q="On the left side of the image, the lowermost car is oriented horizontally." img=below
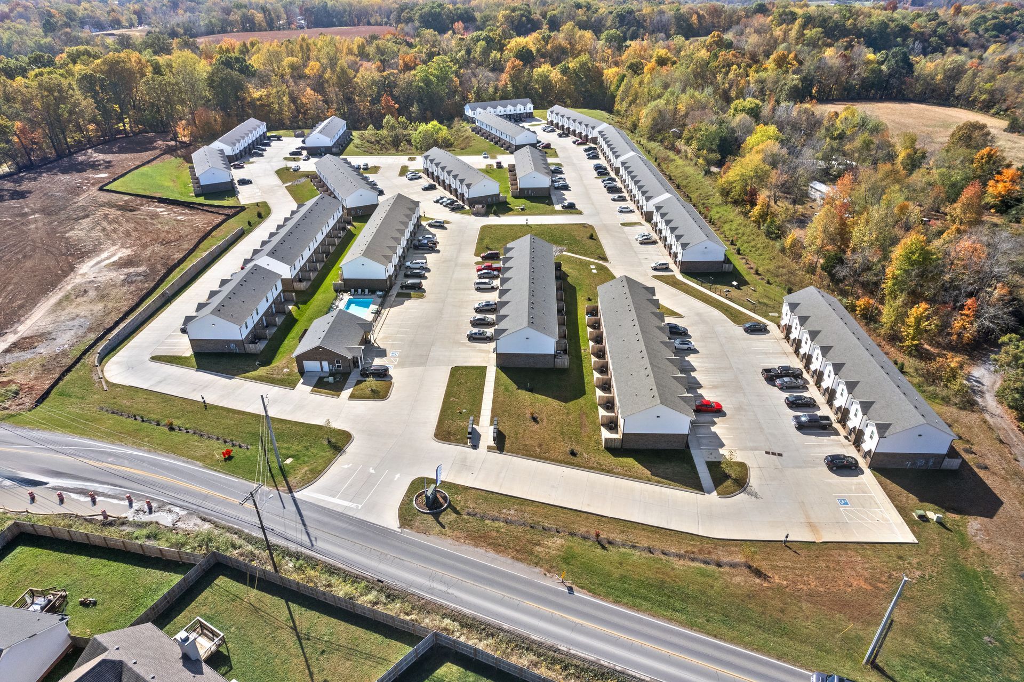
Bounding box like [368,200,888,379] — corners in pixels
[360,363,390,377]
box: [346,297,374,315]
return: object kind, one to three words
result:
swimming pool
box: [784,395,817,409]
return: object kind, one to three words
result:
car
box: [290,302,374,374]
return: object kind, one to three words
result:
building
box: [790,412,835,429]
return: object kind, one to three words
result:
vehicle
